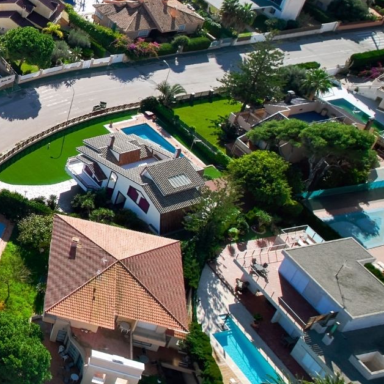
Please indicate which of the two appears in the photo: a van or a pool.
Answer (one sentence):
I can see a pool in this picture.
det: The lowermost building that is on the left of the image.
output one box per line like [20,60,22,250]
[44,212,190,384]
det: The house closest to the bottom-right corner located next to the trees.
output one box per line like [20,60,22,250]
[228,236,384,384]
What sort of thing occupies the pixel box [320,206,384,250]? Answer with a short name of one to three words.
swimming pool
